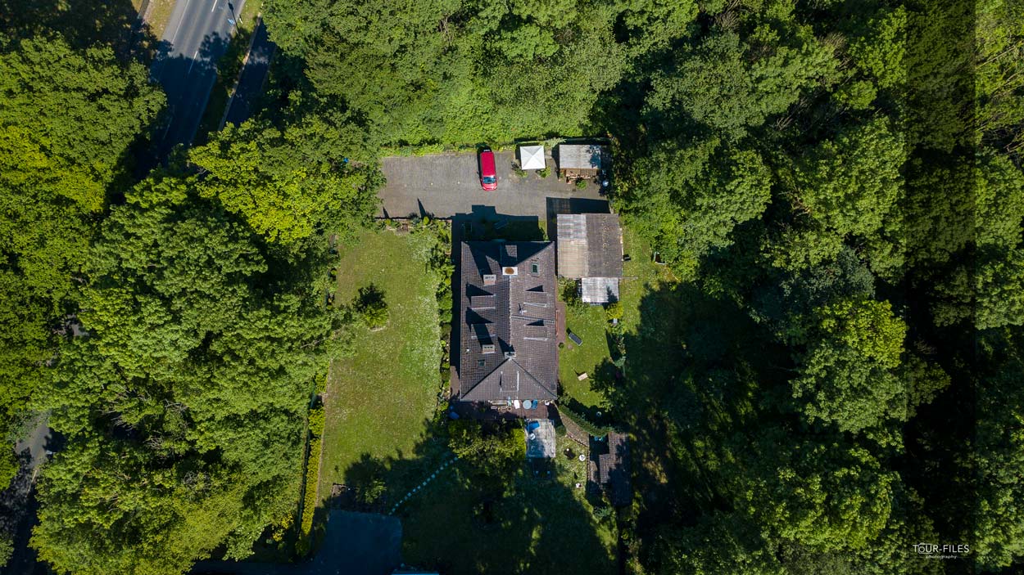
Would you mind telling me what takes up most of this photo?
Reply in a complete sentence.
For the most part, this view shows trees.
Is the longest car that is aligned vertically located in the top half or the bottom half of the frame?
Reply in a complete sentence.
It is in the top half that the longest car that is aligned vertically appears.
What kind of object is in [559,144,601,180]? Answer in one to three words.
shed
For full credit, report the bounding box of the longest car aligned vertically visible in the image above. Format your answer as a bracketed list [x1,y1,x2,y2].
[479,146,500,192]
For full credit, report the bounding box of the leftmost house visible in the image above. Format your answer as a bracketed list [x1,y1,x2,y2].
[458,232,558,402]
